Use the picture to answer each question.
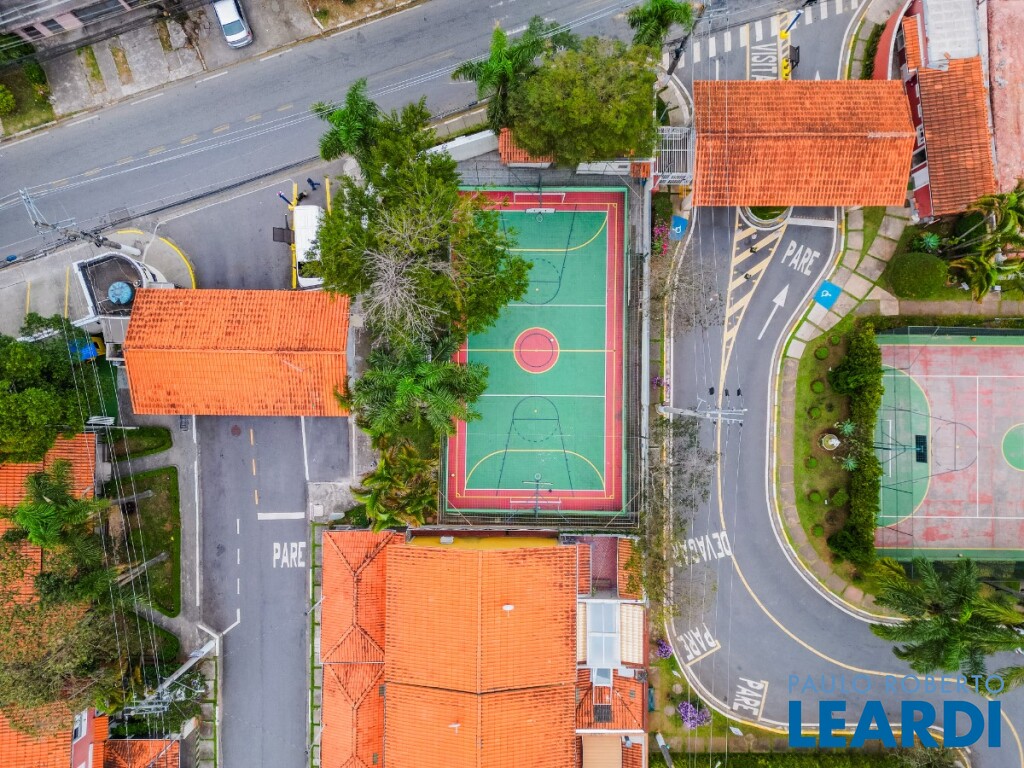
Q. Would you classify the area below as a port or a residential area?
residential area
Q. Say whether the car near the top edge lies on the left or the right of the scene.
left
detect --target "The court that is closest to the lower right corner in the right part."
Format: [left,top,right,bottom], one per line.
[869,335,1024,560]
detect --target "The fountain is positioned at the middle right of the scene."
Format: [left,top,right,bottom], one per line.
[824,433,843,451]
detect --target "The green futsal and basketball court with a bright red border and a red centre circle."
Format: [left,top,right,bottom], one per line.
[444,186,629,517]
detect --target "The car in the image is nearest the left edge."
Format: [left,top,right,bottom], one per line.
[209,0,253,49]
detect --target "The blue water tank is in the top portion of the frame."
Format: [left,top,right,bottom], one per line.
[104,281,132,306]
